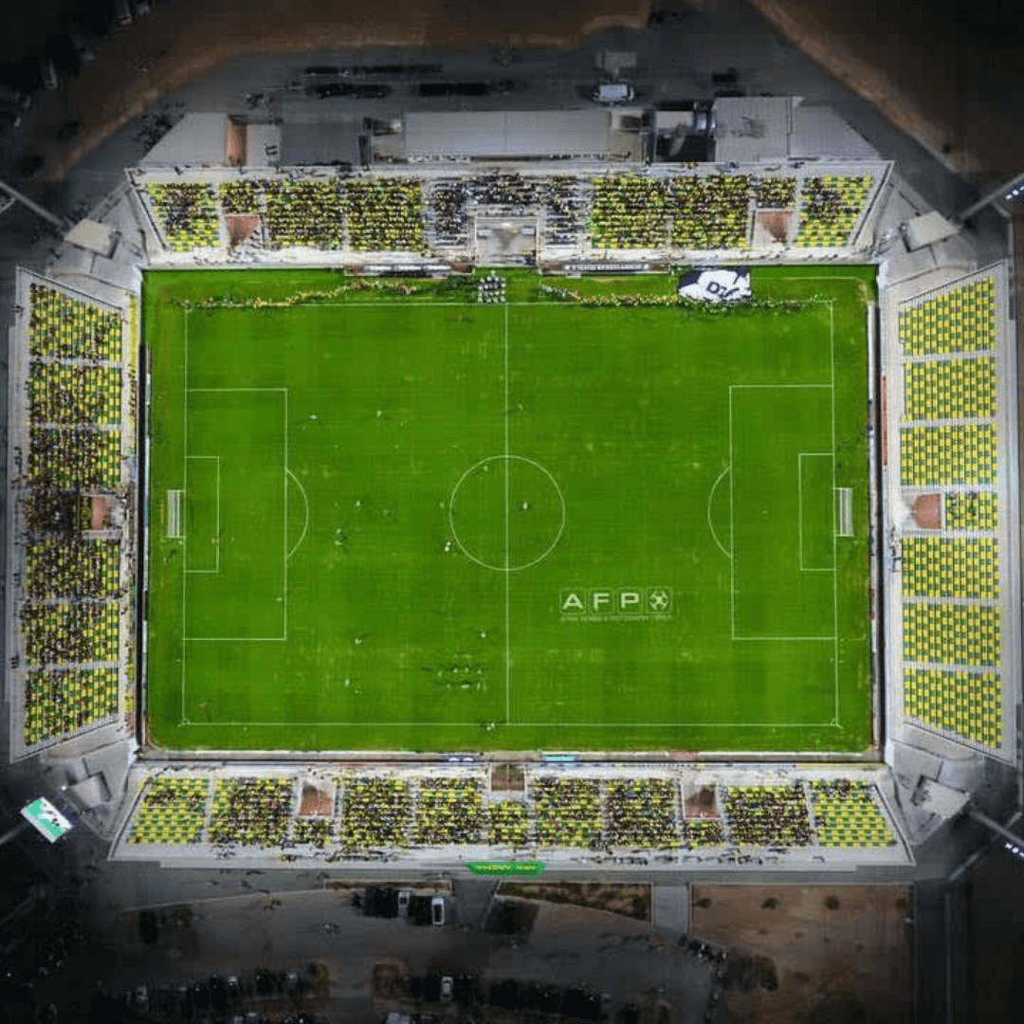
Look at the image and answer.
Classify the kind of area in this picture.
sports ground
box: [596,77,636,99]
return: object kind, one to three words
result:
vehicle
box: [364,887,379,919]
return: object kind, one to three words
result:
car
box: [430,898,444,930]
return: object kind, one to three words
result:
car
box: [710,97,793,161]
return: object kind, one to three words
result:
building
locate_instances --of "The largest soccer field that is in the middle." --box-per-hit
[144,268,877,752]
